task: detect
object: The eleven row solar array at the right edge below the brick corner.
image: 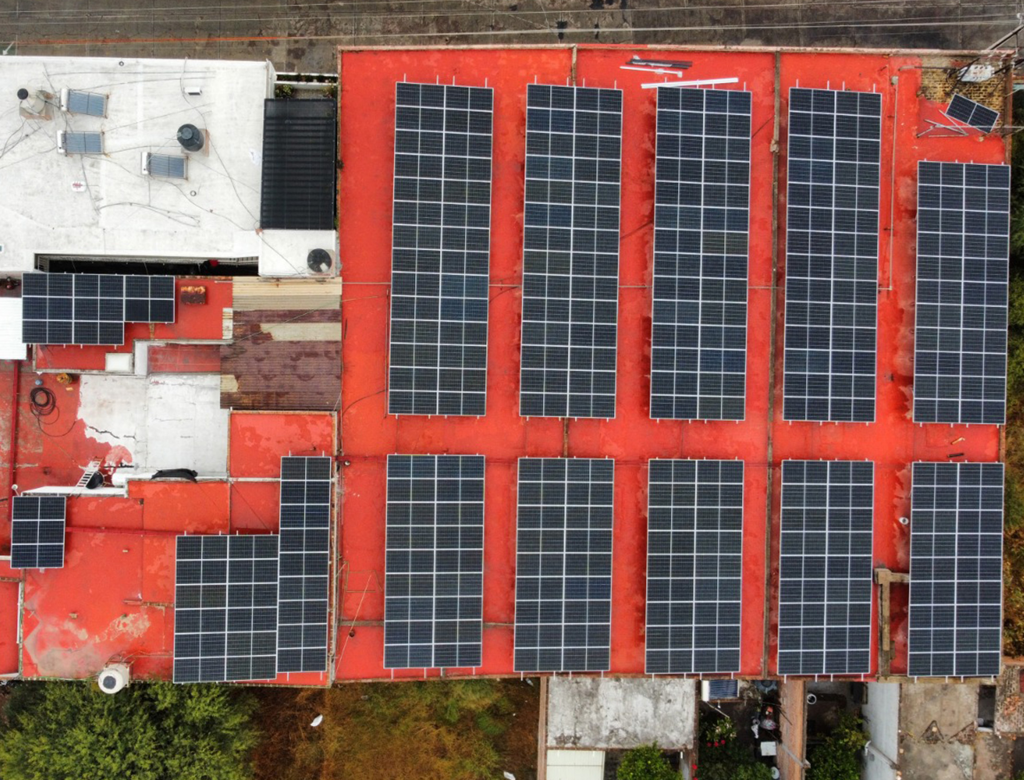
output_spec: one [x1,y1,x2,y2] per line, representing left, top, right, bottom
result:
[909,158,1011,428]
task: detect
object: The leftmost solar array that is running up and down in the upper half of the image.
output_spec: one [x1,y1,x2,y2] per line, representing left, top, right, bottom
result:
[388,73,493,420]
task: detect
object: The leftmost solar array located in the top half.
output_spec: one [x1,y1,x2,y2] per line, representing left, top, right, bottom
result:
[22,271,175,351]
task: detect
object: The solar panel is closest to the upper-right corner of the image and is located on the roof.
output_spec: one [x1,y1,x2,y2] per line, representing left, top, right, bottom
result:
[945,93,998,135]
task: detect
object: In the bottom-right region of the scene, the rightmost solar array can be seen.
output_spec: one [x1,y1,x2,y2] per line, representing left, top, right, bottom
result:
[905,460,1005,683]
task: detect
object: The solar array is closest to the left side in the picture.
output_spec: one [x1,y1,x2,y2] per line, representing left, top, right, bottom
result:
[11,496,70,569]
